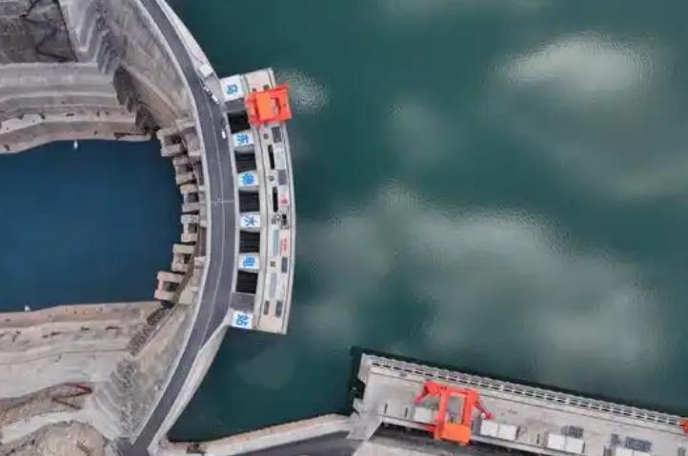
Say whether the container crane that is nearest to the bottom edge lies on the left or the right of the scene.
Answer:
right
